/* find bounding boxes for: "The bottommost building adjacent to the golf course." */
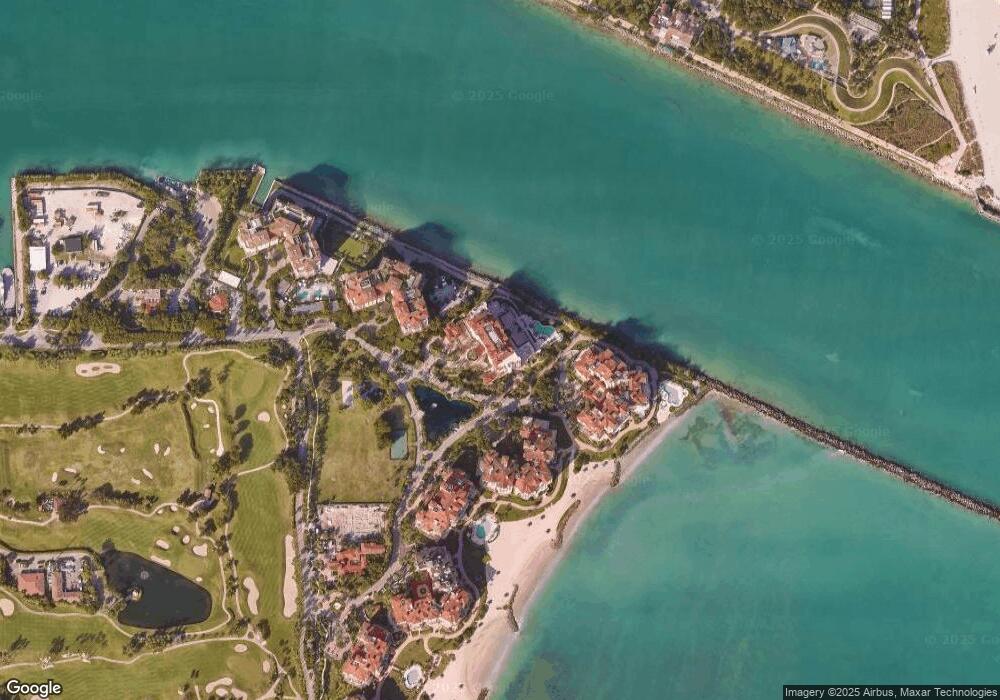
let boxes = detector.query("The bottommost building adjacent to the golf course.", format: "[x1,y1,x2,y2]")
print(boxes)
[340,620,393,695]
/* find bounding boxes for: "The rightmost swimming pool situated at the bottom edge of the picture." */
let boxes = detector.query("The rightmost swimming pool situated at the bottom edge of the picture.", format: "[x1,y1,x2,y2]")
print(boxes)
[405,665,423,688]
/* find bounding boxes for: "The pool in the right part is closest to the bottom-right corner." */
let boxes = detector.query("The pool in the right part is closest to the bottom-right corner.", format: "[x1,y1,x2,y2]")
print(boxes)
[657,380,688,425]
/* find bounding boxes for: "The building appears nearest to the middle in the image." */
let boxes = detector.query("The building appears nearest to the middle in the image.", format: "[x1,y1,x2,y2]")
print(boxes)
[441,302,521,387]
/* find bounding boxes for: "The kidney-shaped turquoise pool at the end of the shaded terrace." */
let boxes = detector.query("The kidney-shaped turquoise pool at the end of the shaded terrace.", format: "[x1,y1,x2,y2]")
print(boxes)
[530,317,561,344]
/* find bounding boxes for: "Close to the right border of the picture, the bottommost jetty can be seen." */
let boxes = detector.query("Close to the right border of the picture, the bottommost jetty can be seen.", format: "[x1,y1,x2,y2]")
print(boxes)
[693,372,1000,519]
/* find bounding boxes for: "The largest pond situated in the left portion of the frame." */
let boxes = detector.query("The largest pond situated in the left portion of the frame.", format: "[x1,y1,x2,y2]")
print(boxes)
[101,546,211,628]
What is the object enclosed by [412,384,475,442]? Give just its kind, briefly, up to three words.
pond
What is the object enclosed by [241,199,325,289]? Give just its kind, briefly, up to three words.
building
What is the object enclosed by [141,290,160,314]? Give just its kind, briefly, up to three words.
house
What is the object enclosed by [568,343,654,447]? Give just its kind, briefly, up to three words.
building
